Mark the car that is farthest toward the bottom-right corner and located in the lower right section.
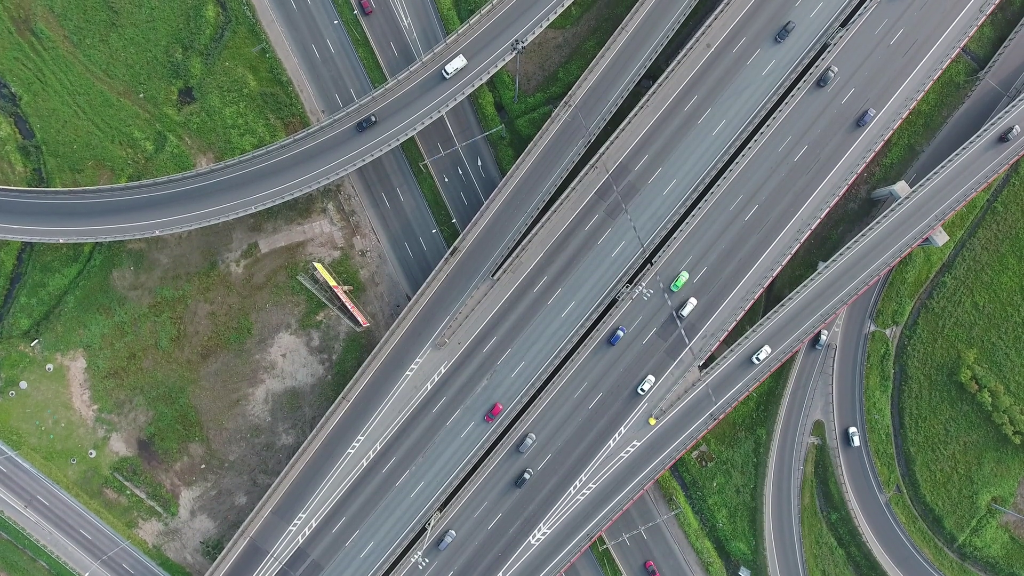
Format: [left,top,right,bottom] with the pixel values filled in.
[846,426,859,447]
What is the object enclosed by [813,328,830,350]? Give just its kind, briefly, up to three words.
car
